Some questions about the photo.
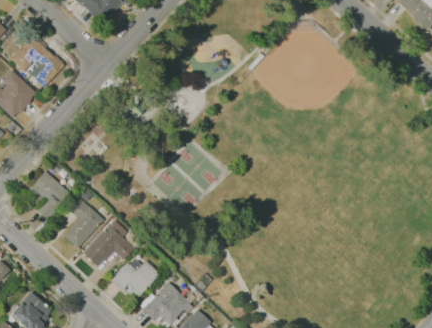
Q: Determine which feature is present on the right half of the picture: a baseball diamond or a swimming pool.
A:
baseball diamond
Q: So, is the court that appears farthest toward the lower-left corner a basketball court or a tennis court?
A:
basketball court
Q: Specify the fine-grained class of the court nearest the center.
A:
basketball court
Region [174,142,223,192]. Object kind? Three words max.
basketball court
